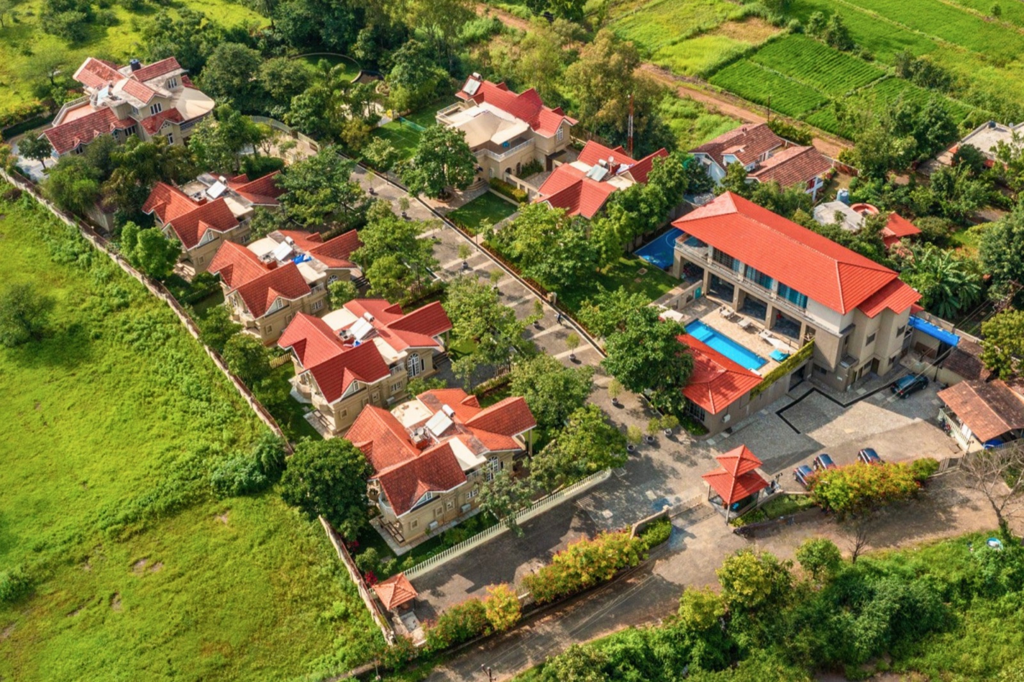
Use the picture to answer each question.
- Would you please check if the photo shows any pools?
Yes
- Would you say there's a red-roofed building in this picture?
Yes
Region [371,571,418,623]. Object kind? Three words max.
gazebo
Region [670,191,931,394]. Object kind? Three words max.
building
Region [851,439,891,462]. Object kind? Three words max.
car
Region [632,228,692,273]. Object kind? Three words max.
sports court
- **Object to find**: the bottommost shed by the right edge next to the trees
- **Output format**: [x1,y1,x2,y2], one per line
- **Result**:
[934,379,1024,444]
